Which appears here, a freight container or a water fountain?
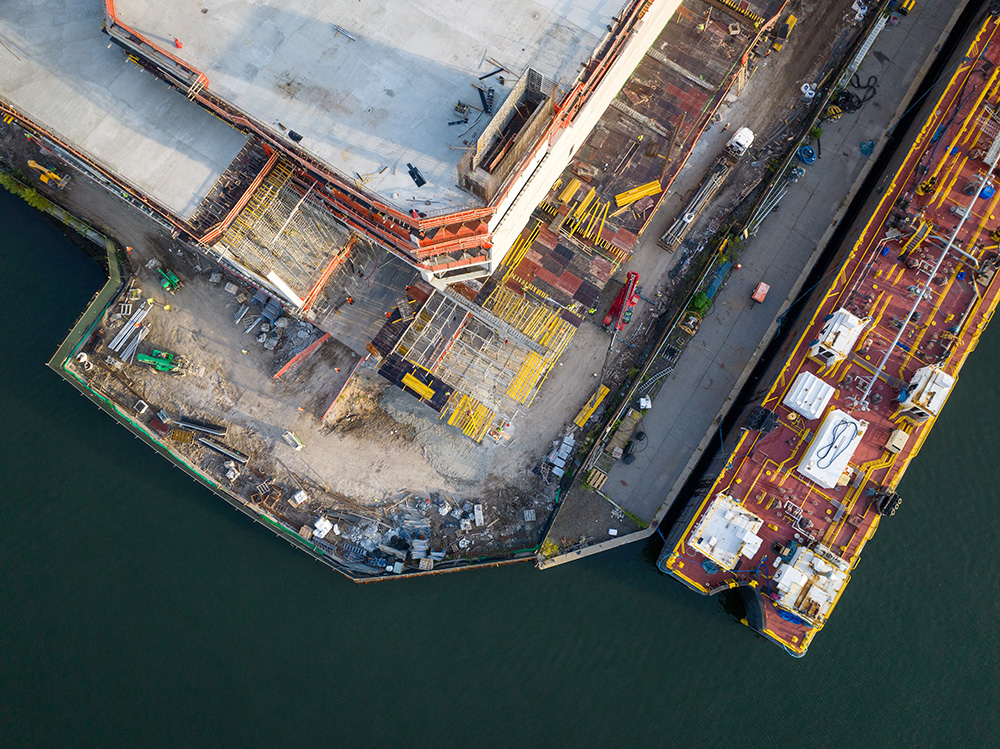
freight container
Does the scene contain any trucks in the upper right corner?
Yes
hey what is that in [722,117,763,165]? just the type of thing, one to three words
truck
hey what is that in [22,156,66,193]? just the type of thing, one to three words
work vehicle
